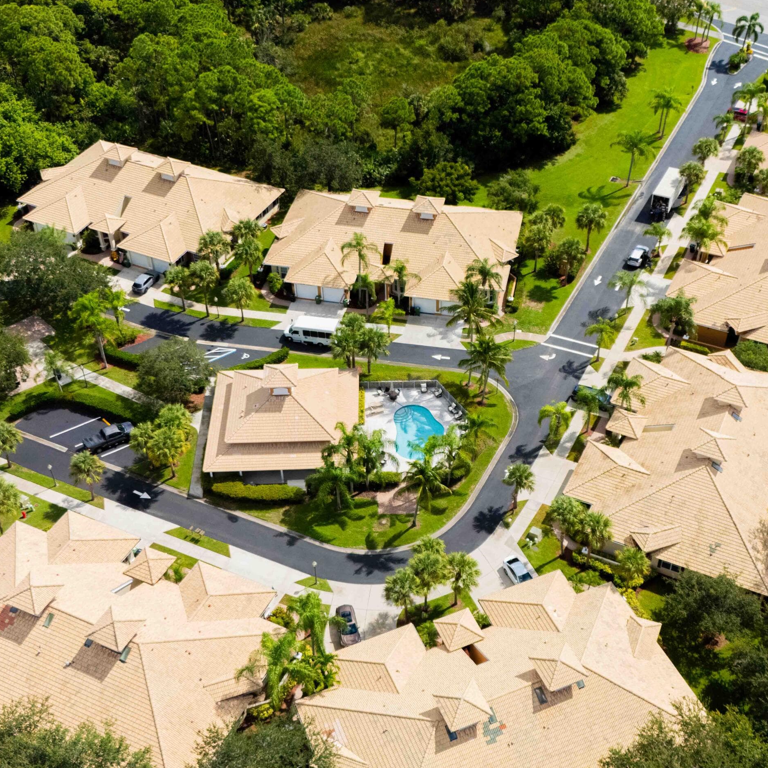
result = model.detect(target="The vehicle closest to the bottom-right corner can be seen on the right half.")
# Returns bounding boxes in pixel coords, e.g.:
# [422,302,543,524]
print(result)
[501,552,534,582]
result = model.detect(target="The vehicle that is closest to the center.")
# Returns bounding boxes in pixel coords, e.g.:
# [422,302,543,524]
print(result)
[284,315,339,344]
